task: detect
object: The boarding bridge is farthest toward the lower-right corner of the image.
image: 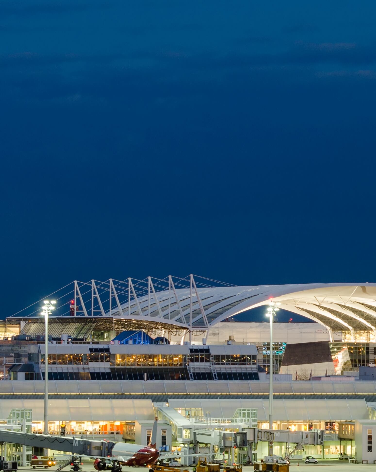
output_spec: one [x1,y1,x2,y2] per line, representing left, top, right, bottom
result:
[252,424,332,465]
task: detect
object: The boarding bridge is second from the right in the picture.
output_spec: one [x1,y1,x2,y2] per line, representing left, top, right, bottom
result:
[194,431,251,466]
